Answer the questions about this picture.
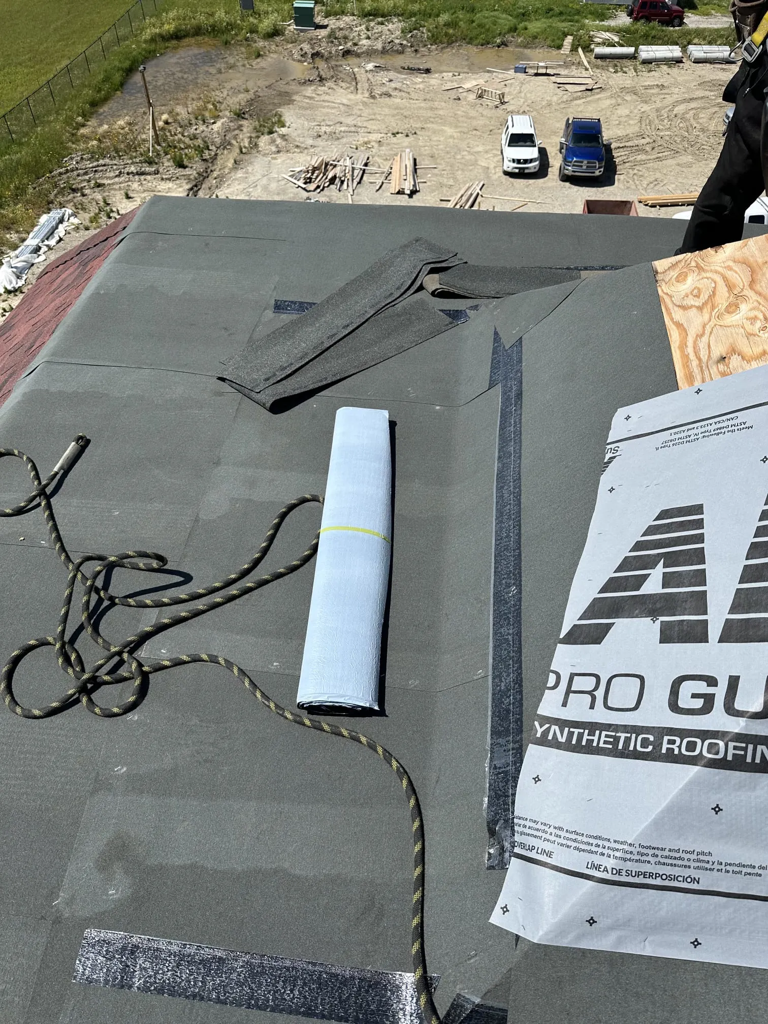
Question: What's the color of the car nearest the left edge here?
white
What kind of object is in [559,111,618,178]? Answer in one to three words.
truck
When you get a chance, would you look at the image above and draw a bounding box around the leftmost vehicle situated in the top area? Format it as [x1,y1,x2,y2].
[500,113,546,172]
